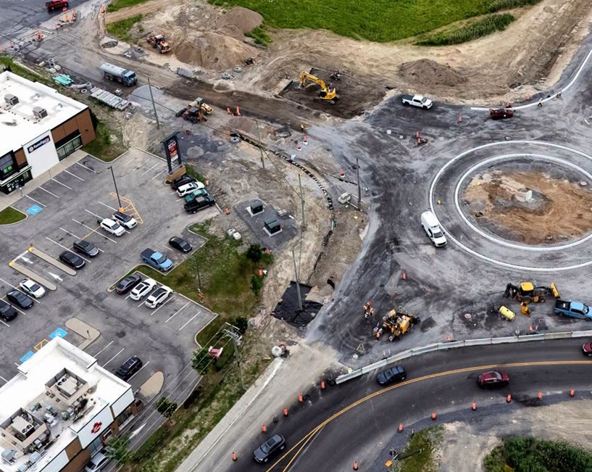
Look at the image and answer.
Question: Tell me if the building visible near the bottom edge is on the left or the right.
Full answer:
The building visible near the bottom edge appears in the left half of the scene.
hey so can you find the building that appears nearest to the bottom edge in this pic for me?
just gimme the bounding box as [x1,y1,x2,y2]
[0,337,143,472]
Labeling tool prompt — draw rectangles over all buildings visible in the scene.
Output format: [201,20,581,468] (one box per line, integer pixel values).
[0,337,143,472]
[0,70,96,195]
